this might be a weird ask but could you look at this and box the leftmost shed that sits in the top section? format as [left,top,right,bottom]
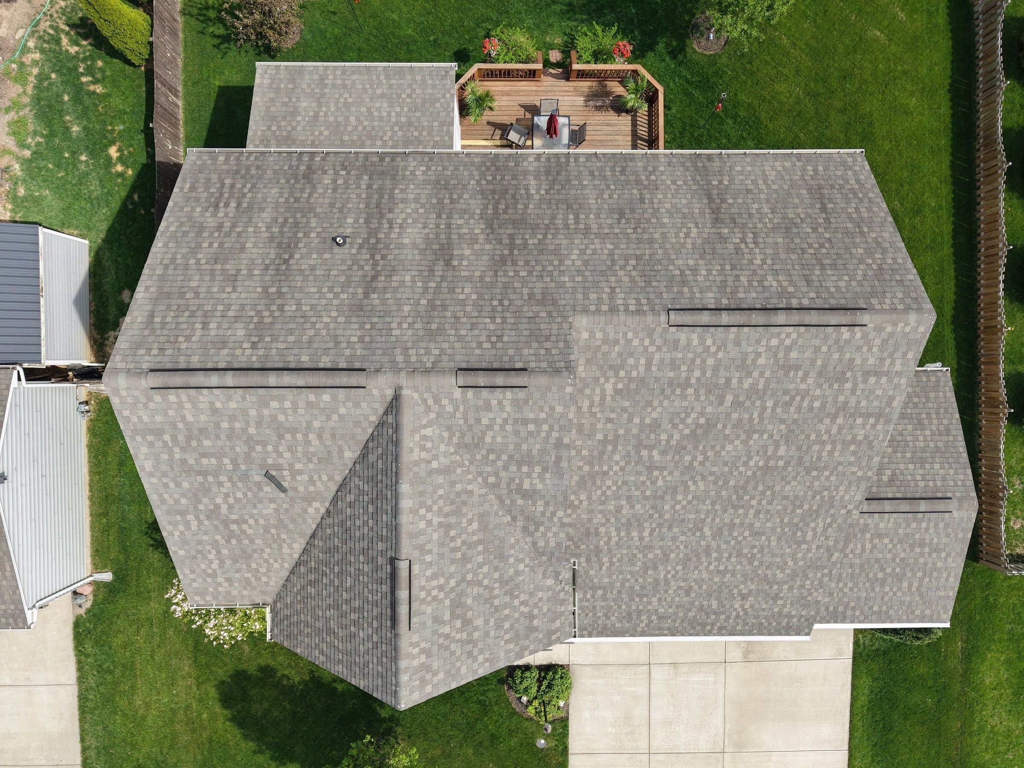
[0,219,89,369]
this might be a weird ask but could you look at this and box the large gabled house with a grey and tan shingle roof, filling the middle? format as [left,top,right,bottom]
[102,60,978,713]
